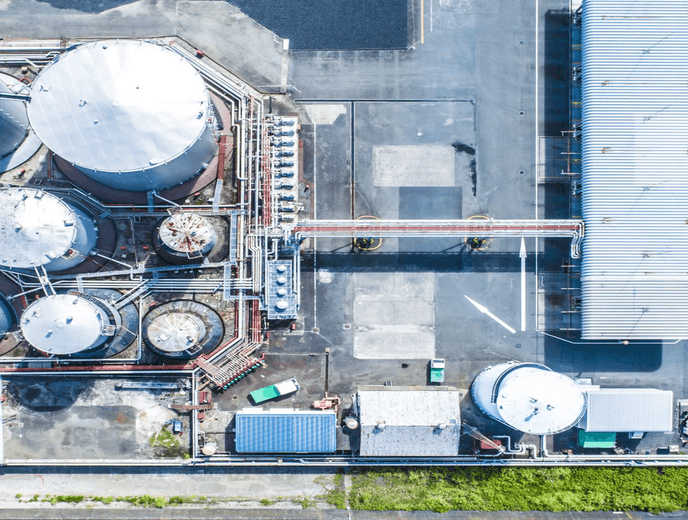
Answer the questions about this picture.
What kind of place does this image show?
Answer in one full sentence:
It's an industrial area.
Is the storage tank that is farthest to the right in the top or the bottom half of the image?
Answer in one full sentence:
You can find the storage tank that is farthest to the right in the bottom half.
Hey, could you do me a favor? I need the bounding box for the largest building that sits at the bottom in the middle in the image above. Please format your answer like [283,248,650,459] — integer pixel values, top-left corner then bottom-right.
[356,380,462,456]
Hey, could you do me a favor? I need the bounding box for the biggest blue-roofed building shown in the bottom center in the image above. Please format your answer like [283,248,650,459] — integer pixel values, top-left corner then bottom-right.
[233,408,337,454]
